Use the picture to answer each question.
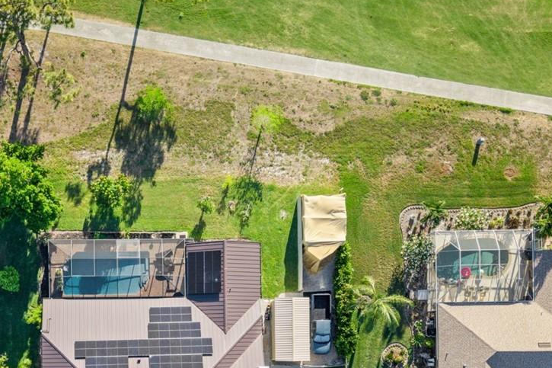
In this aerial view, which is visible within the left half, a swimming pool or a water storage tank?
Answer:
swimming pool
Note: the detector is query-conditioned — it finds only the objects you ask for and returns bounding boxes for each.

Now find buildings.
[40,239,268,368]
[272,298,309,362]
[433,247,552,368]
